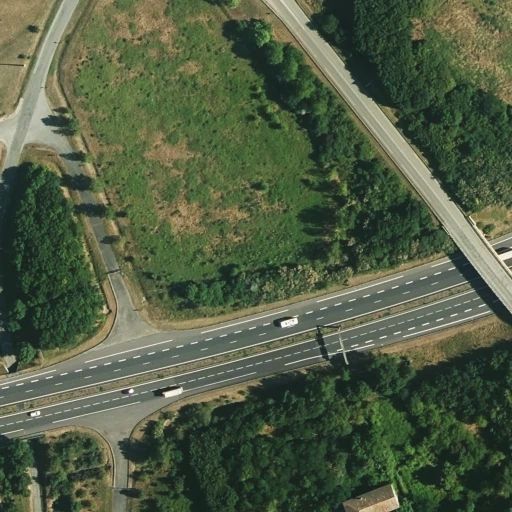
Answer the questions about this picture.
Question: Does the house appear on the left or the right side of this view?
right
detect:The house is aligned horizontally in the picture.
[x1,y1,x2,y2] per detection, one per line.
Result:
[342,484,400,512]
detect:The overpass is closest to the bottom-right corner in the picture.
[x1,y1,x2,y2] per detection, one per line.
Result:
[434,200,512,316]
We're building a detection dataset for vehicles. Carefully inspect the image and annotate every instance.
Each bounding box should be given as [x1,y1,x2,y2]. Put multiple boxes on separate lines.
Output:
[30,410,42,416]
[280,318,297,327]
[498,250,512,260]
[124,389,133,394]
[162,386,183,398]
